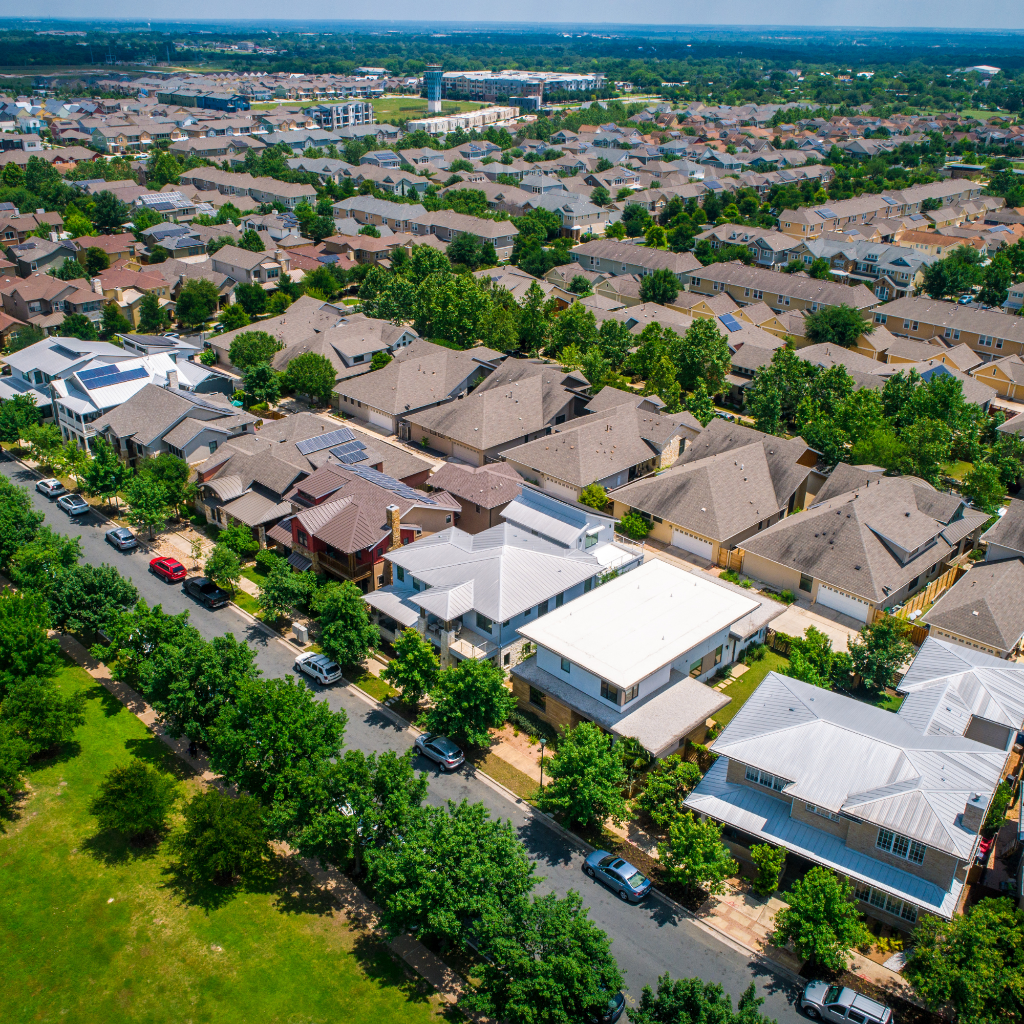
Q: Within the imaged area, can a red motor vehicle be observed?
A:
Yes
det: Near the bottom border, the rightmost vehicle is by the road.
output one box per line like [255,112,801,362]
[799,975,894,1024]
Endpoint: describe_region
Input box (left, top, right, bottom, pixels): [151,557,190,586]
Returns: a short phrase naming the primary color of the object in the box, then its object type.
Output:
red car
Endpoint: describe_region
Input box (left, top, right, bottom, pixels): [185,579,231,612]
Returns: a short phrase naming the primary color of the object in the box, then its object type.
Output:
black truck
